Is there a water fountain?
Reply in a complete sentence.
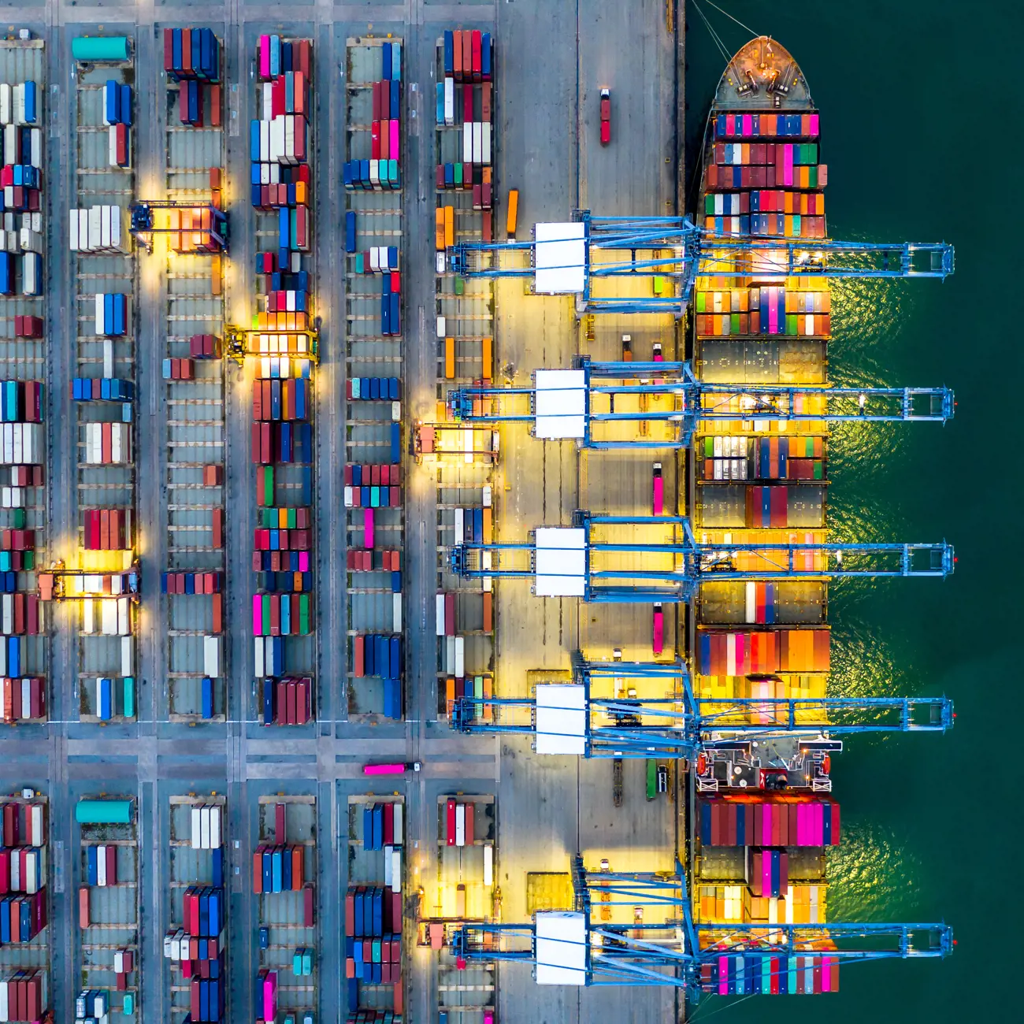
No, I can see no water fountain in this picture.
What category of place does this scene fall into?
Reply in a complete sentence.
This looks like a port.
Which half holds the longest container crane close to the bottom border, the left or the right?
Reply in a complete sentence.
It is on the right.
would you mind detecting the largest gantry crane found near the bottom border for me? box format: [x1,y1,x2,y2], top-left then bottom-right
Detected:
[451,847,958,991]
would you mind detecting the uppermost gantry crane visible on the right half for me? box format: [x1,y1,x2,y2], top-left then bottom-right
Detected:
[450,202,961,336]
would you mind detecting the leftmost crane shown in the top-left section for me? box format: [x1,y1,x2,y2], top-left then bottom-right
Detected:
[123,198,234,257]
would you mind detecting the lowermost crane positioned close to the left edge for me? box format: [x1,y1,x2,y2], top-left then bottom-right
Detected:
[32,556,146,606]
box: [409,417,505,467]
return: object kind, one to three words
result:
crane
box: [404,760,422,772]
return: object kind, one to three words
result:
vehicle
